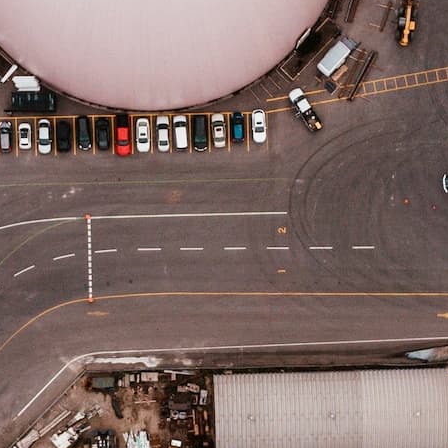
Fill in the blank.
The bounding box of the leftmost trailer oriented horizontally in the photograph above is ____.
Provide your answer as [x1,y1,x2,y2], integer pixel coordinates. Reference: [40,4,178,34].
[3,89,54,111]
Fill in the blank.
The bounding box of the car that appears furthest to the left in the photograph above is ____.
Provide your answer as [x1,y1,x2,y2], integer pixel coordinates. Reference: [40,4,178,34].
[0,121,14,153]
